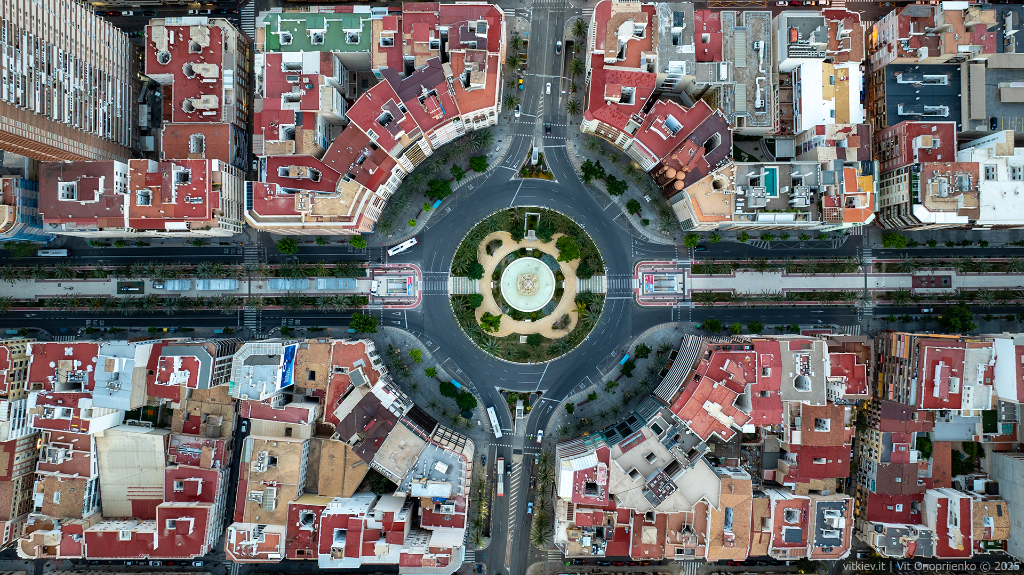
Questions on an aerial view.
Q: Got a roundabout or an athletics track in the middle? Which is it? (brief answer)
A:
roundabout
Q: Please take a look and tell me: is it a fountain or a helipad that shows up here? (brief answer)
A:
fountain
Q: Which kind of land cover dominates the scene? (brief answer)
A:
buildings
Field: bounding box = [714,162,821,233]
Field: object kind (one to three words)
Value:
building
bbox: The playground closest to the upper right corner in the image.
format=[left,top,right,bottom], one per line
[912,275,952,288]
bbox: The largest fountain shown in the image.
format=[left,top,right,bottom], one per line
[501,257,555,311]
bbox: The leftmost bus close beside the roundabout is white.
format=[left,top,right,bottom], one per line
[386,237,418,257]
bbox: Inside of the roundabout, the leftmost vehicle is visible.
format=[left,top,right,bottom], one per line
[488,406,502,440]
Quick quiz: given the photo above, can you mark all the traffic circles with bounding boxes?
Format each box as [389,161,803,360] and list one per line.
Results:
[423,122,634,449]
